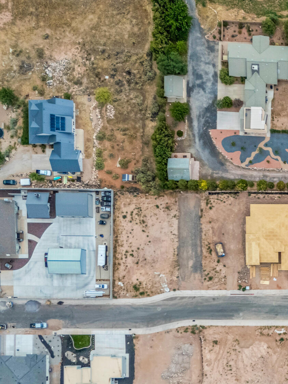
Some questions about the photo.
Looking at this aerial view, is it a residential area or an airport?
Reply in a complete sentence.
It's a residential area.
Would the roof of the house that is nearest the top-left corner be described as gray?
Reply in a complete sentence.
No, the color of the roof of the house that is nearest the top-left corner is blue.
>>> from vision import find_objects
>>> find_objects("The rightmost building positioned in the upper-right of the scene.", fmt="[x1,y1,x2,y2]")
[226,34,288,137]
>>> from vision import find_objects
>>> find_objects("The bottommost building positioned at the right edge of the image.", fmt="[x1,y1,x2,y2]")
[245,205,288,271]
